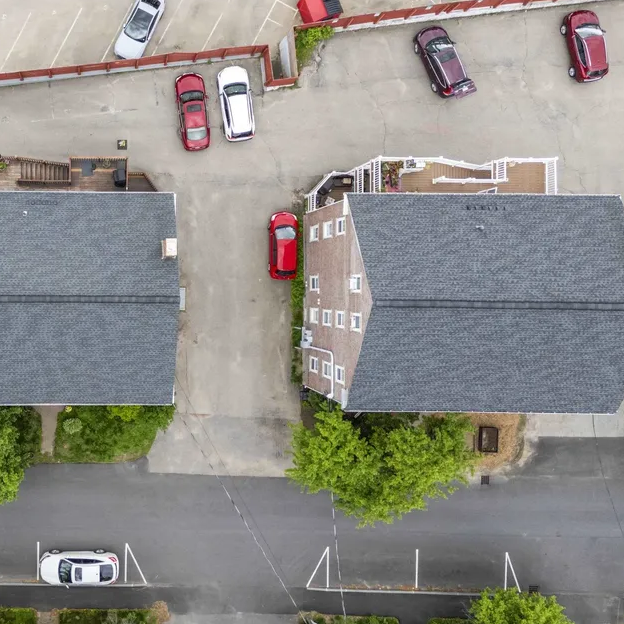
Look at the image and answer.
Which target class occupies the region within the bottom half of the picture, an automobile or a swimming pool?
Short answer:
automobile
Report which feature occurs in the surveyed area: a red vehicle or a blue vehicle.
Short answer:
red vehicle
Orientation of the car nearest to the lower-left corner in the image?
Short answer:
horizontally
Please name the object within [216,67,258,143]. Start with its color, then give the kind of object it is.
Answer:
white car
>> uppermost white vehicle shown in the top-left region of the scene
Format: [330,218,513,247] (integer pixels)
[115,0,165,60]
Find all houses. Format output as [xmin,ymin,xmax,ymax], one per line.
[0,192,180,406]
[301,194,624,417]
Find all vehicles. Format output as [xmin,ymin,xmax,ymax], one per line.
[266,211,303,282]
[559,9,610,85]
[216,67,258,143]
[115,0,165,60]
[411,22,475,99]
[173,74,211,151]
[38,549,119,589]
